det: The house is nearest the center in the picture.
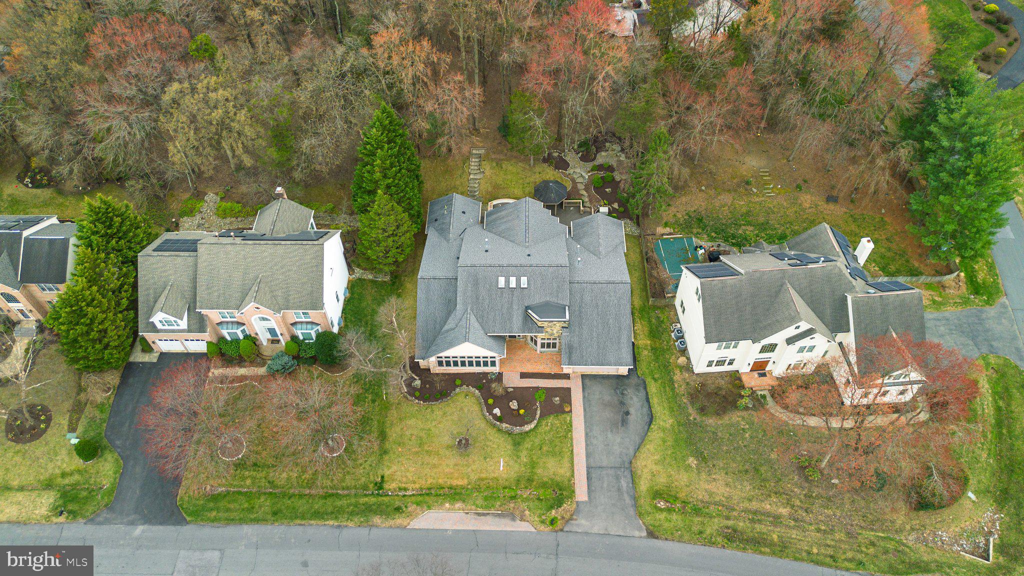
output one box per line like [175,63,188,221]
[414,193,634,377]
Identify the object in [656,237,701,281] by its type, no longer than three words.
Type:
sports court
